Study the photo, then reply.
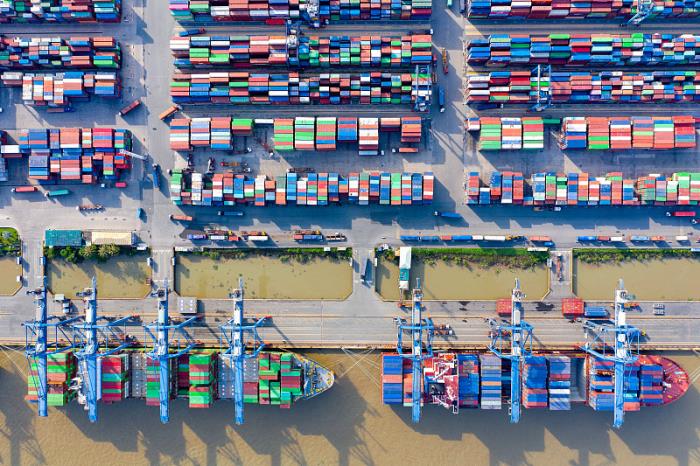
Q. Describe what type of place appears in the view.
port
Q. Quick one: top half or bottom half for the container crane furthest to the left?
bottom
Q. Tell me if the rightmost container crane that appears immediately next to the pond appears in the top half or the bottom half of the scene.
bottom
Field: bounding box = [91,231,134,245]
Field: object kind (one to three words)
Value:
shed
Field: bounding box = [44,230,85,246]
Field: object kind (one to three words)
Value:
shed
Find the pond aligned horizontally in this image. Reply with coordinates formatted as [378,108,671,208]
[0,249,700,299]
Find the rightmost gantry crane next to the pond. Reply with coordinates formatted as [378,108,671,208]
[564,279,634,430]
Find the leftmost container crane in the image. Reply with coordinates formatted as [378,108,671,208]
[26,277,102,420]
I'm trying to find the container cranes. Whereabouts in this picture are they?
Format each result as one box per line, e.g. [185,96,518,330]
[221,279,273,427]
[474,279,531,425]
[522,64,551,115]
[77,278,146,424]
[618,0,656,33]
[564,279,634,430]
[301,0,322,33]
[386,278,432,424]
[26,277,102,420]
[409,64,432,116]
[148,281,208,427]
[283,24,305,76]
